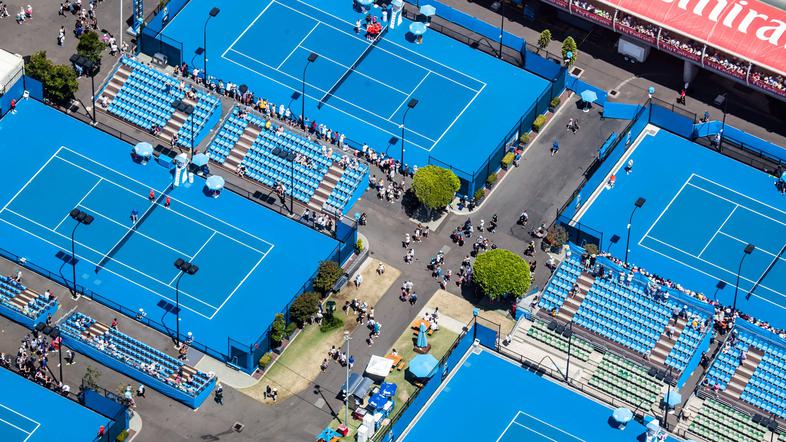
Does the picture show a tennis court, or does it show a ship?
tennis court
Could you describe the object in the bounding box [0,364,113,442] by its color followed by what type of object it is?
blue tennis court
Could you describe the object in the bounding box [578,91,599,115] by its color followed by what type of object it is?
blue umbrella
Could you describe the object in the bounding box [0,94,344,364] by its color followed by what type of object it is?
blue tennis court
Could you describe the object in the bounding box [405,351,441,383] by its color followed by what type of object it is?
blue umbrella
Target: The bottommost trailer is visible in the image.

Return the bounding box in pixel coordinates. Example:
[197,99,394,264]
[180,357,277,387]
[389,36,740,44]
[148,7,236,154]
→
[609,33,651,64]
